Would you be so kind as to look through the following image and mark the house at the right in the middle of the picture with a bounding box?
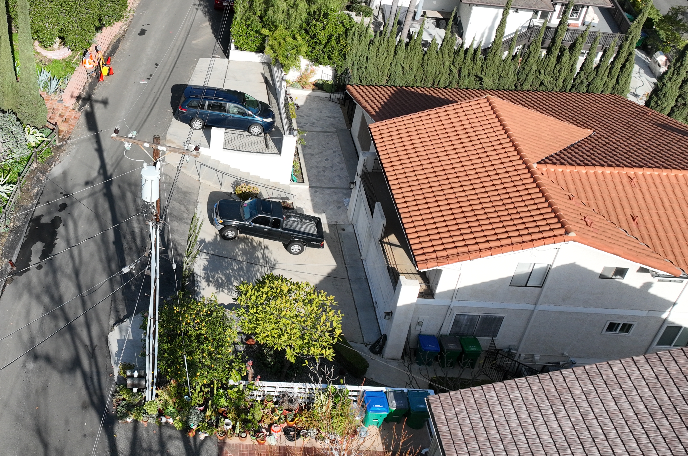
[336,83,688,368]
